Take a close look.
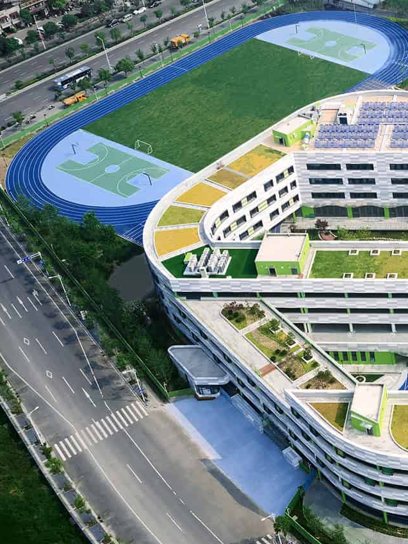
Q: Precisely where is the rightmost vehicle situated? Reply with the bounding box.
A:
[170,32,192,47]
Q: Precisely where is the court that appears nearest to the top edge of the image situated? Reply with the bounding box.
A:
[284,26,378,63]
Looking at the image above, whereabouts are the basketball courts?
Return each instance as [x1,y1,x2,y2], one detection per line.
[284,26,378,63]
[55,142,170,199]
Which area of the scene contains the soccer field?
top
